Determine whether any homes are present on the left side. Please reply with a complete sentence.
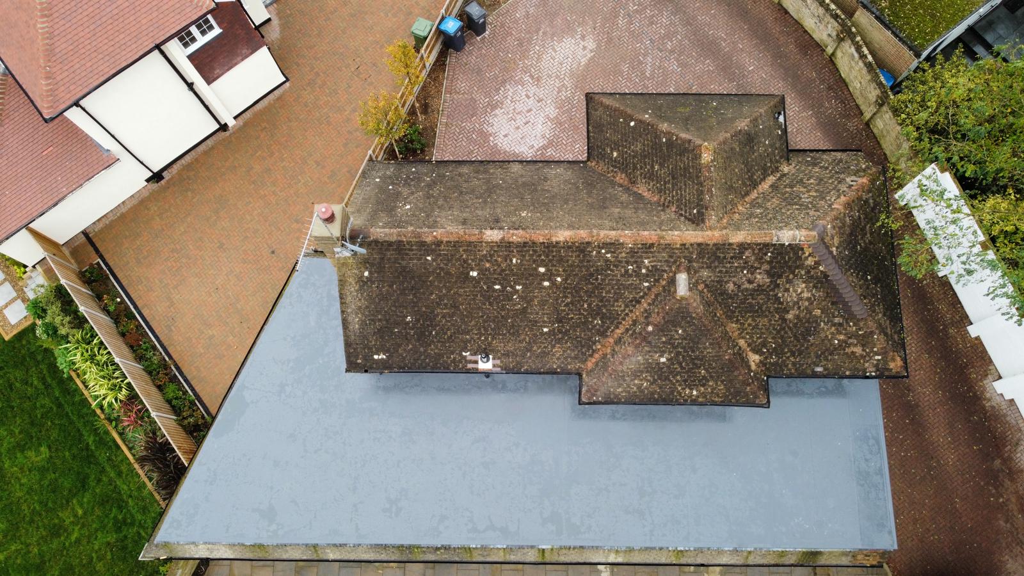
Yes, a home can be seen on the left side.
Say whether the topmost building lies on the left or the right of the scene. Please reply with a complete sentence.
The topmost building sits on the right side.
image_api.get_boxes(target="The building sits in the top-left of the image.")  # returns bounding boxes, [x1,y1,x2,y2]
[0,0,289,266]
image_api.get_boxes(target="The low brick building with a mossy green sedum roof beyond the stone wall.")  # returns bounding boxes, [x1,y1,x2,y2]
[830,0,1014,85]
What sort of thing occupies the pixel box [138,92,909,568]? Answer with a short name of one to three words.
house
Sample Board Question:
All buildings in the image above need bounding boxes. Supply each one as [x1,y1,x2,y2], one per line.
[138,92,909,568]
[0,0,289,266]
[830,0,1014,85]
